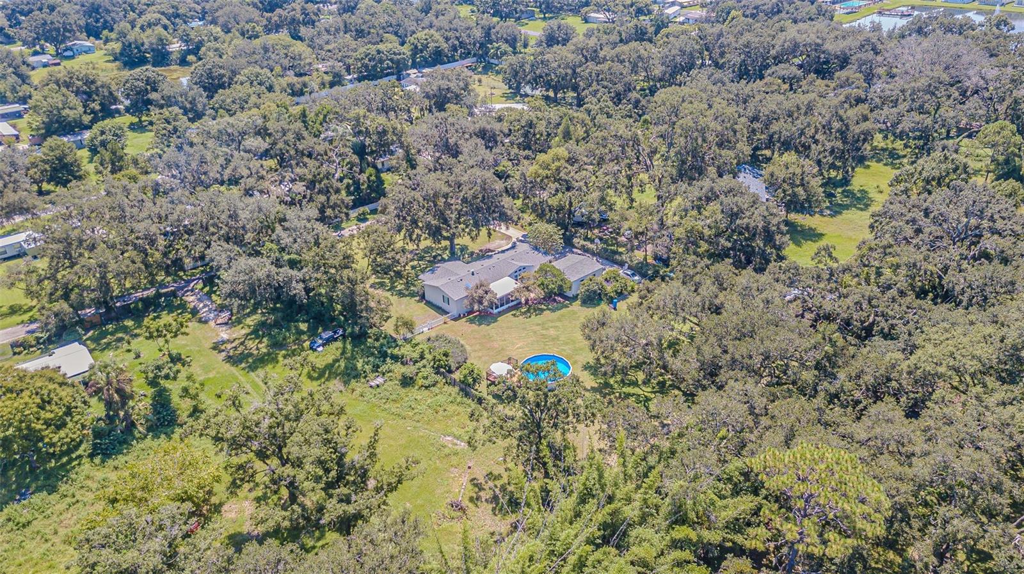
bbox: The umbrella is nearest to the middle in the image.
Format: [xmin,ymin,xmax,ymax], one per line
[487,360,514,381]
